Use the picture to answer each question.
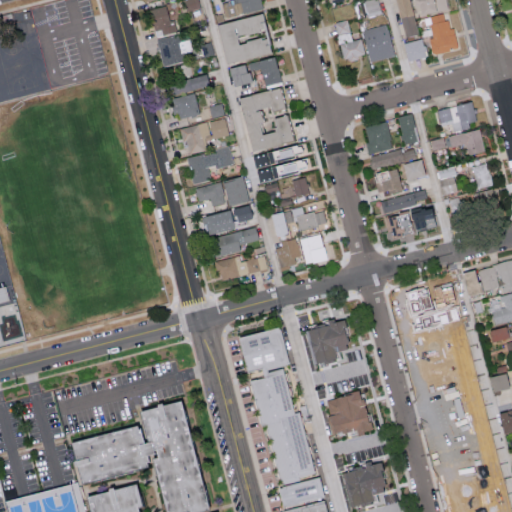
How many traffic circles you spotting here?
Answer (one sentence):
The count of traffic circles is 0.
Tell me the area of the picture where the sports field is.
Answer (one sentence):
Look in the left portion of the view to spot the sports field.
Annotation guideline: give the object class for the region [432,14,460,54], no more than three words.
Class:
house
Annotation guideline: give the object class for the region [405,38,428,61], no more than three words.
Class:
house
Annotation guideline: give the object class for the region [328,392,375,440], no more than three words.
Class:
building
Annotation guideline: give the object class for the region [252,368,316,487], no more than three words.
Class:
building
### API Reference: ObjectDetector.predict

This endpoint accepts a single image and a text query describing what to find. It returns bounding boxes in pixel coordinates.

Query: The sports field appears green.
[0,78,167,340]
